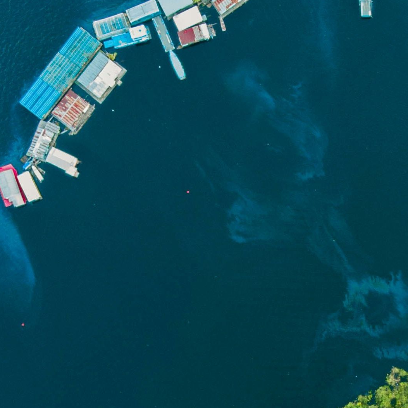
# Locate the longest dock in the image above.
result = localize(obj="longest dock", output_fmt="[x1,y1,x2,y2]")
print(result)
[152,15,175,54]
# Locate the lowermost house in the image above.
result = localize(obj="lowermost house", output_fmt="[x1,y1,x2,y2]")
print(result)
[46,147,83,176]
